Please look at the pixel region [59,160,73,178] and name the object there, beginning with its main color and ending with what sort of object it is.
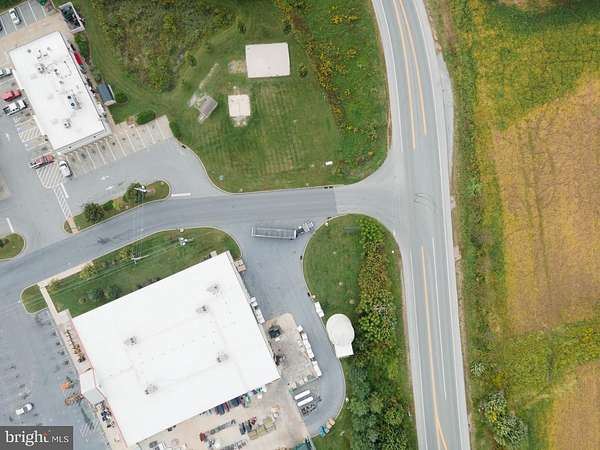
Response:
white car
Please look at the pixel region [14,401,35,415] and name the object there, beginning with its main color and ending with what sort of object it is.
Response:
white vehicle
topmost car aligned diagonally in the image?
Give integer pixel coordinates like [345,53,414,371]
[9,8,23,26]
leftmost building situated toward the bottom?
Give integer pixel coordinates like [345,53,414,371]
[71,250,283,446]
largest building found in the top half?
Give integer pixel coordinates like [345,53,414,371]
[11,30,110,155]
